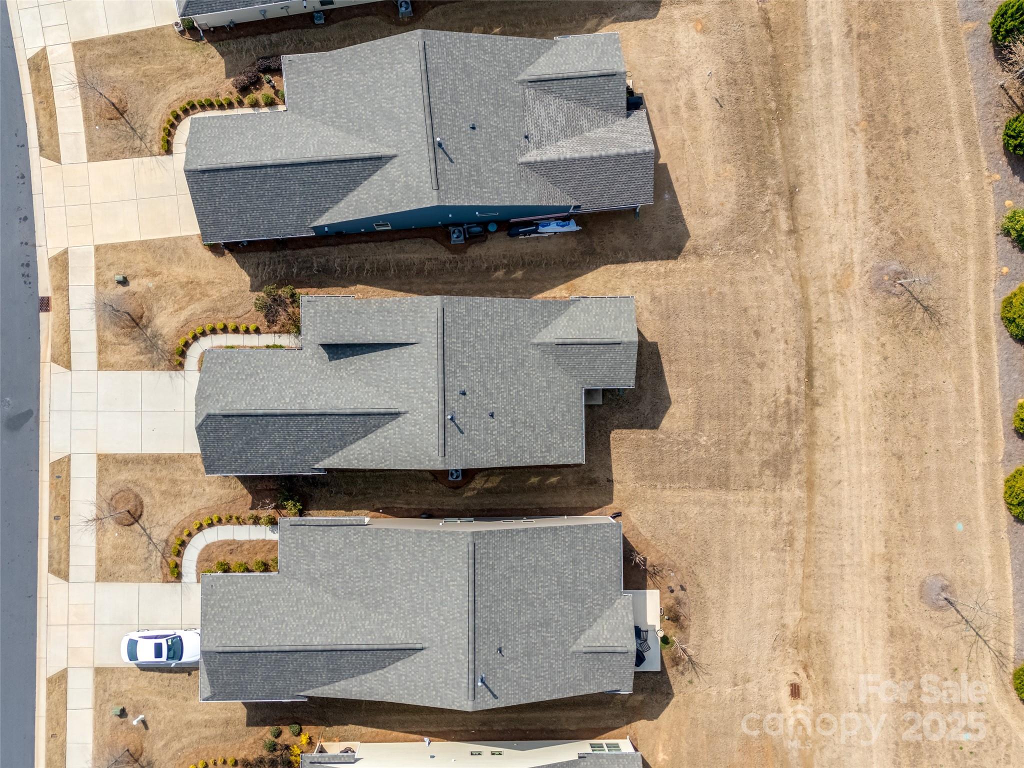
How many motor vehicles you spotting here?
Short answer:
one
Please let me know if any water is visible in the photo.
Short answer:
No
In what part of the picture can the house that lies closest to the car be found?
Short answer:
bottom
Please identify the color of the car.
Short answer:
white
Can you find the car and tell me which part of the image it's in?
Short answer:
bottom left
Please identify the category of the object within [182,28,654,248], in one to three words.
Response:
house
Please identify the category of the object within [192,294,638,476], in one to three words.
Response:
house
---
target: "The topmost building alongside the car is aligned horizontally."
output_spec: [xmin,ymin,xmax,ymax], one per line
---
[199,512,636,713]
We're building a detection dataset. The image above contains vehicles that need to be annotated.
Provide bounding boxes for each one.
[120,628,199,668]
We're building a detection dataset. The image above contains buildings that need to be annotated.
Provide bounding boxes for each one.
[199,512,636,713]
[192,294,638,476]
[182,28,654,248]
[298,738,642,768]
[175,0,388,42]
